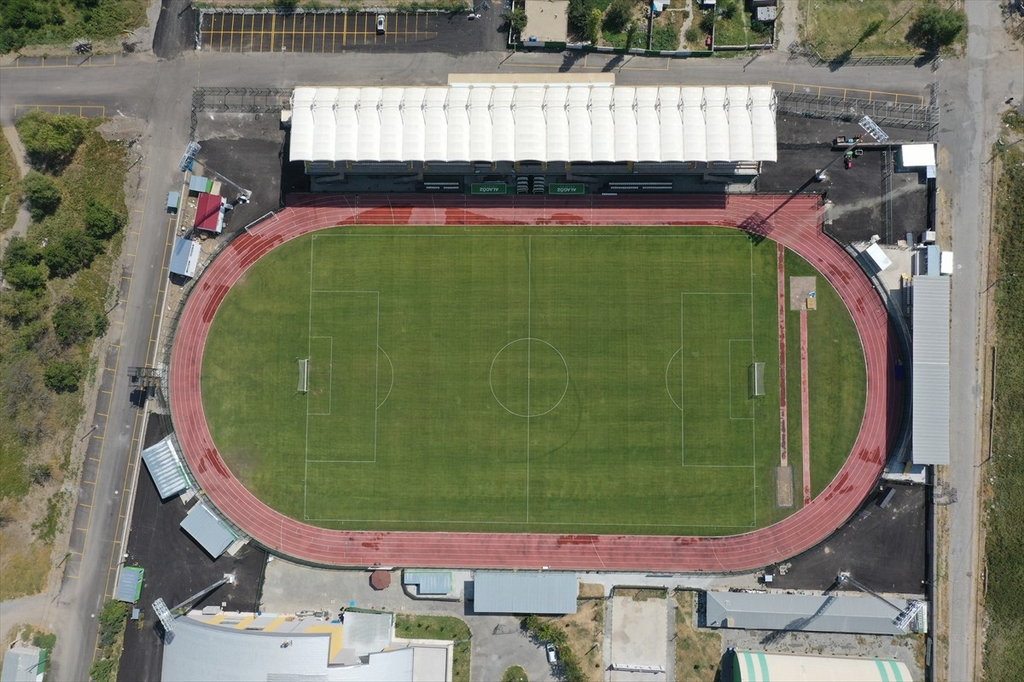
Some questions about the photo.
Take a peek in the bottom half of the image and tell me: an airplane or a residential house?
residential house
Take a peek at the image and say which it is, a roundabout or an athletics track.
athletics track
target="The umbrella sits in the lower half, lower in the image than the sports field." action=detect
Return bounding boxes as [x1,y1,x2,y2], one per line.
[371,569,390,589]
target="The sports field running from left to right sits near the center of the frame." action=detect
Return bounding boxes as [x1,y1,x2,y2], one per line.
[202,226,867,537]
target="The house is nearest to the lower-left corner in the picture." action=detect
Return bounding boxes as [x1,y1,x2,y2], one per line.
[3,631,51,682]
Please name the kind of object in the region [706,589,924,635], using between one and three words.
building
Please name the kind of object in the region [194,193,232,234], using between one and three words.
building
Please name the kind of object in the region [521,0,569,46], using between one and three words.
house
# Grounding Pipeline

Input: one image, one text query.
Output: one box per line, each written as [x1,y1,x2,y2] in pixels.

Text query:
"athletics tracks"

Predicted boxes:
[168,193,900,573]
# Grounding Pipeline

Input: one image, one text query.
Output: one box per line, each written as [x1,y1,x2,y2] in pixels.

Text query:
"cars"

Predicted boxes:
[547,646,558,665]
[376,14,385,31]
